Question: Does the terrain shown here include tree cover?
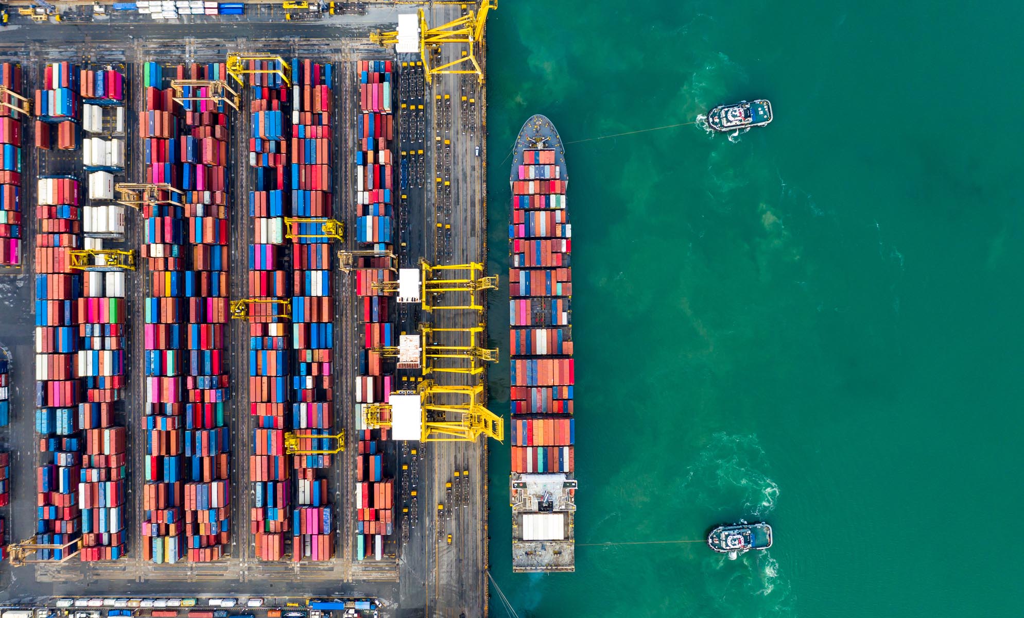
No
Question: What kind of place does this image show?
port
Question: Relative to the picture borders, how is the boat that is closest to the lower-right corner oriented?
from left to right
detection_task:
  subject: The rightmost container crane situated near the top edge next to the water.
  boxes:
[369,0,499,90]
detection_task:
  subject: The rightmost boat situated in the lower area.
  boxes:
[707,525,773,553]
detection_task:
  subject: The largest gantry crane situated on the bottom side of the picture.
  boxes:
[365,375,507,447]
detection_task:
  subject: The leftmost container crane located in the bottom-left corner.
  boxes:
[7,530,84,566]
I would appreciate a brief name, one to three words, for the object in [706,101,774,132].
boat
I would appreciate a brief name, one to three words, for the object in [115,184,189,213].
container crane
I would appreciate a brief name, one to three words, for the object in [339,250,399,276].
container crane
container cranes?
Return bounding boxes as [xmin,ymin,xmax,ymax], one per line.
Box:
[339,250,399,276]
[369,0,499,90]
[370,256,499,318]
[171,80,243,114]
[284,216,348,244]
[370,318,500,377]
[115,184,189,213]
[226,53,293,89]
[229,296,292,322]
[0,84,32,118]
[68,248,141,274]
[284,425,348,457]
[7,530,84,566]
[365,375,507,447]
